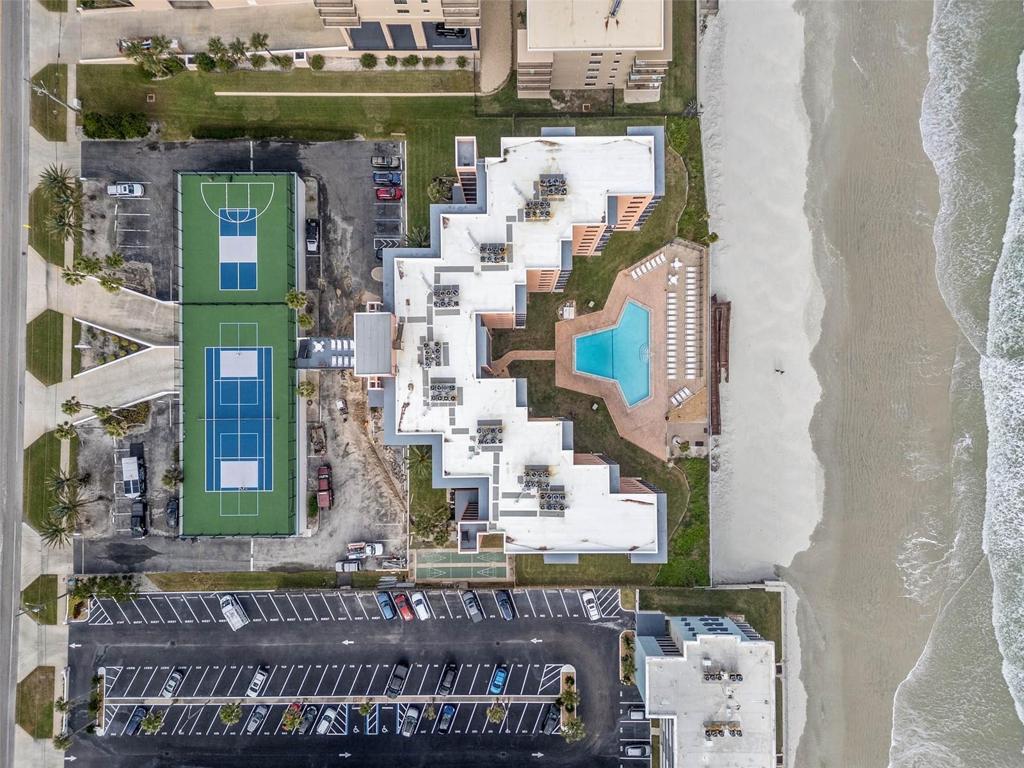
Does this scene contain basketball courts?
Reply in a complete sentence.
Yes, the picture does show a basketball court.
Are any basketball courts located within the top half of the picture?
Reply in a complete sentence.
Yes, a basketball court appears within the top half of the picture.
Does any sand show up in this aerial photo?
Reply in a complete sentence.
Yes, the picture does contain sand.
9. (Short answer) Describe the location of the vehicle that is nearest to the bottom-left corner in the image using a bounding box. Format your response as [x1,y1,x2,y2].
[124,703,148,738]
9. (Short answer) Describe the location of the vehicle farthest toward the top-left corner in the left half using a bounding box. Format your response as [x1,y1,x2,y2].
[104,182,145,198]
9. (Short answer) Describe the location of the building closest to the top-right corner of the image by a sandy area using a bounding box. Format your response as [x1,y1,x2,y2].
[517,0,672,98]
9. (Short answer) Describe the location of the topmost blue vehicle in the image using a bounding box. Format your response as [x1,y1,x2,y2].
[374,171,402,185]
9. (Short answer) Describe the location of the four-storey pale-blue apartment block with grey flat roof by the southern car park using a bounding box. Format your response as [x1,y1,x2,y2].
[633,608,775,768]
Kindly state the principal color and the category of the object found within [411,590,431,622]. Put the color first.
white car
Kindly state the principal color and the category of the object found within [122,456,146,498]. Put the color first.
white trailer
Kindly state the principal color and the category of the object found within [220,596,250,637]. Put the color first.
white truck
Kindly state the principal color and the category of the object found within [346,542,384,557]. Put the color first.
white vehicle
